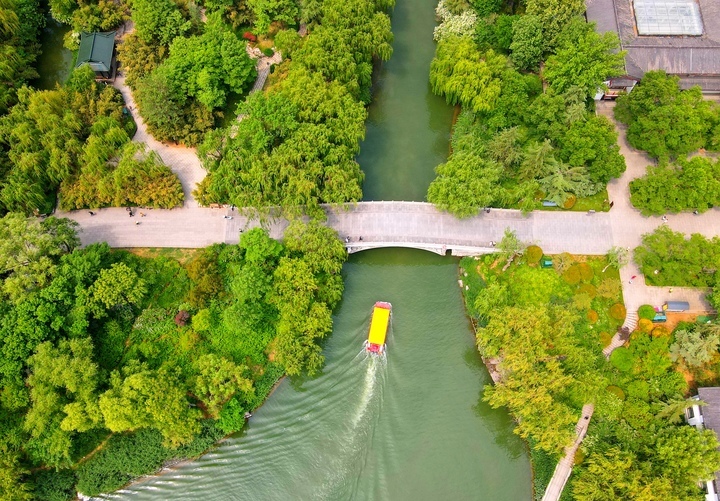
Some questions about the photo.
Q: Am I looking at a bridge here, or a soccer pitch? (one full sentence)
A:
It is a bridge that can be seen here.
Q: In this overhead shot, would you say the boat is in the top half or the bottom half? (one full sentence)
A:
The boat sits in the bottom half of the picture.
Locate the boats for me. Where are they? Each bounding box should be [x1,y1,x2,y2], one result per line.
[367,301,390,353]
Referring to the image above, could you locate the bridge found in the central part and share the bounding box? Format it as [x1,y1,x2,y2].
[221,199,619,254]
